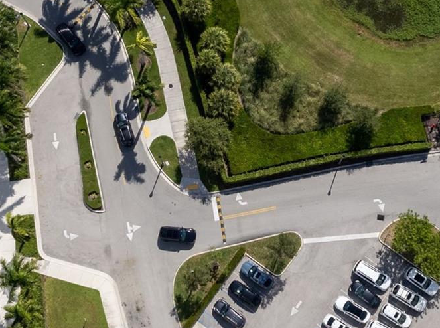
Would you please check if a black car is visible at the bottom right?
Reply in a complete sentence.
Yes, the scene does show a black car at the bottom right.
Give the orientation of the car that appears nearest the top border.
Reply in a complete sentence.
The car that appears nearest the top border is laid out on a diagonal.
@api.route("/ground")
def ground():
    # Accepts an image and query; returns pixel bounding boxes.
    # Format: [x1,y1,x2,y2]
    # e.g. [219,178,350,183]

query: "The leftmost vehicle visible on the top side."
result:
[55,22,86,53]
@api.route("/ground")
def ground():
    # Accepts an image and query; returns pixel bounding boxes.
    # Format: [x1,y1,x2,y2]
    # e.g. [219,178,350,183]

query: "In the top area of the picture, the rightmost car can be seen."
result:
[113,110,134,145]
